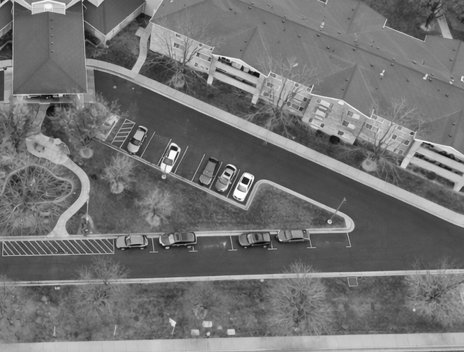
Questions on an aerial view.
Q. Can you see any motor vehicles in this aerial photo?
Yes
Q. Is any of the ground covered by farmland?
No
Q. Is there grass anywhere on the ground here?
Yes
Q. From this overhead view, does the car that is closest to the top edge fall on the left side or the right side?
left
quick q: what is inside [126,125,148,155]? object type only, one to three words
car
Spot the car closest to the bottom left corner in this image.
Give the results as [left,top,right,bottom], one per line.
[114,233,150,250]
